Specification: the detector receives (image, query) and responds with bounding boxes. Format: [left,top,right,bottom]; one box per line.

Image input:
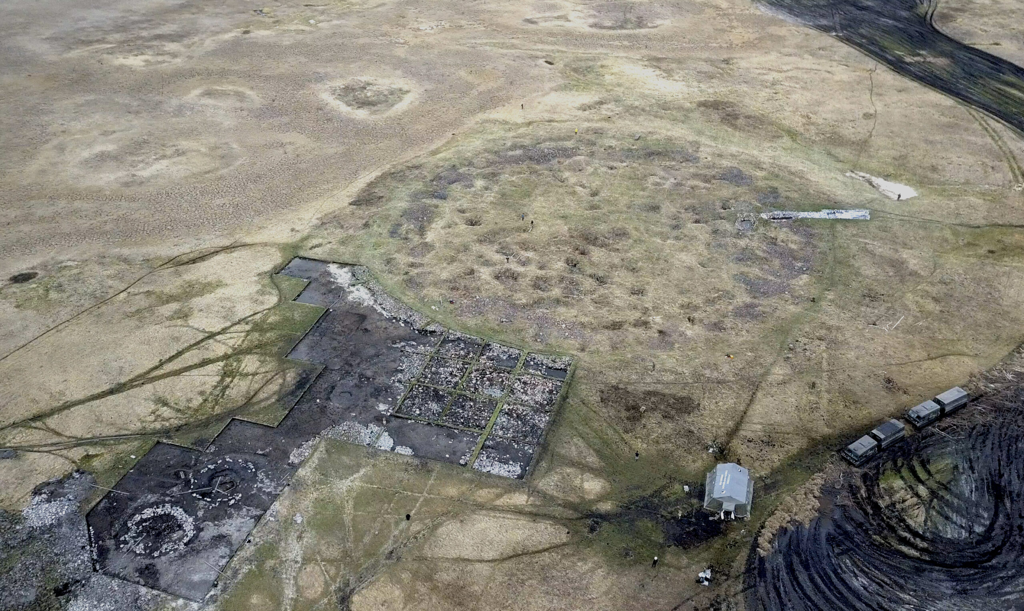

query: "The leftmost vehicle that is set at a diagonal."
[838,419,905,472]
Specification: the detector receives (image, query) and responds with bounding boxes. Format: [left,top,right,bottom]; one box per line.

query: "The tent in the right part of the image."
[700,463,757,525]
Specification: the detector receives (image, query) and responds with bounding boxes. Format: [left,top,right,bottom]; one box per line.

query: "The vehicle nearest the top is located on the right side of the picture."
[899,386,968,433]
